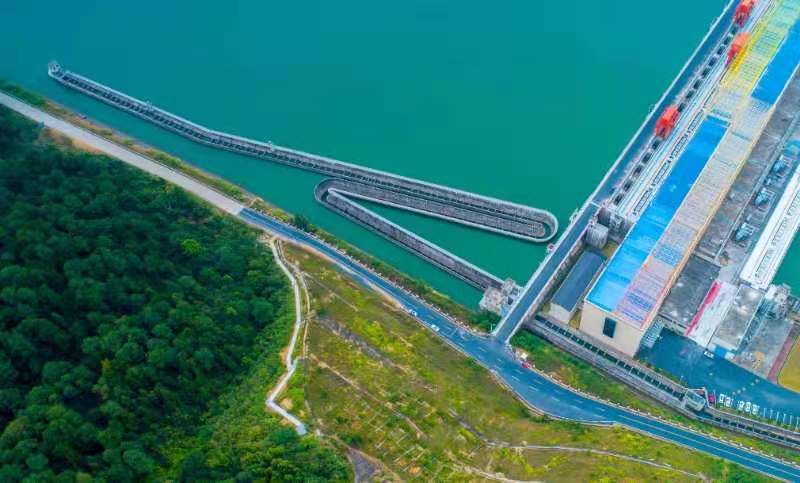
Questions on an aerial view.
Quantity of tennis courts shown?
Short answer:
0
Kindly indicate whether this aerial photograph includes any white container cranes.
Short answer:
No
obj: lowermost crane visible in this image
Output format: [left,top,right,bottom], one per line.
[654,104,681,140]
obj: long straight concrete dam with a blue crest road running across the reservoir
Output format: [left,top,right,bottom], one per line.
[486,0,744,349]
